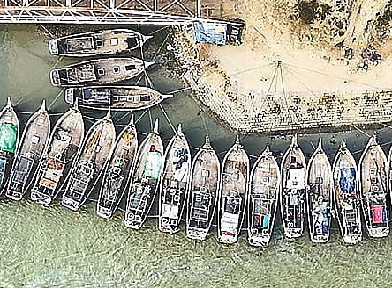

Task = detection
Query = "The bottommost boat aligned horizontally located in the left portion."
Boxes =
[67,85,173,110]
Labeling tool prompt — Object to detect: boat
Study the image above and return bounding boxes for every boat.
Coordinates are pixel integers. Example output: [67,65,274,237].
[67,85,173,110]
[246,145,280,247]
[216,136,249,246]
[159,124,190,234]
[305,138,332,245]
[0,97,19,199]
[32,98,82,205]
[186,135,218,241]
[96,115,138,219]
[50,31,152,59]
[279,134,306,238]
[52,57,155,89]
[332,140,362,245]
[359,132,390,238]
[124,119,162,230]
[6,100,49,200]
[62,109,113,211]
